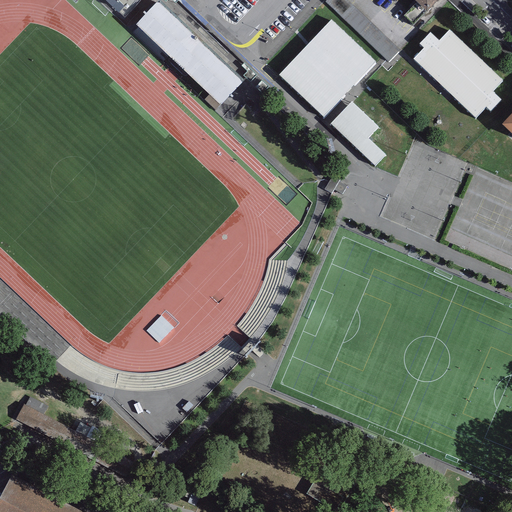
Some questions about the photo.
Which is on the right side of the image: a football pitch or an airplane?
football pitch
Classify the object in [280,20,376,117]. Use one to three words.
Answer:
building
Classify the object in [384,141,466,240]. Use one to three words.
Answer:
sports court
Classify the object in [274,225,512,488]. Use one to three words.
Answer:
soccer field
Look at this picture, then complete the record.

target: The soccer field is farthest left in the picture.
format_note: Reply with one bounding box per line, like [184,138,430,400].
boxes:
[0,22,238,342]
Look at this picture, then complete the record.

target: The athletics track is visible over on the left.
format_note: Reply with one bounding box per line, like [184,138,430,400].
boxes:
[0,0,300,372]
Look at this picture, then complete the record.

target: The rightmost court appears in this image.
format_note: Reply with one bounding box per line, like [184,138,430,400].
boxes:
[446,164,512,270]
